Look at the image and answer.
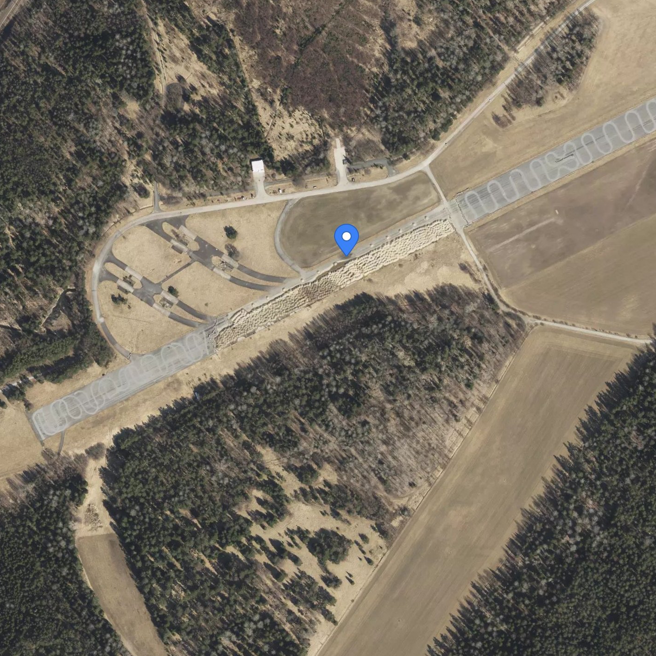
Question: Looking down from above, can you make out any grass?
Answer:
Yes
